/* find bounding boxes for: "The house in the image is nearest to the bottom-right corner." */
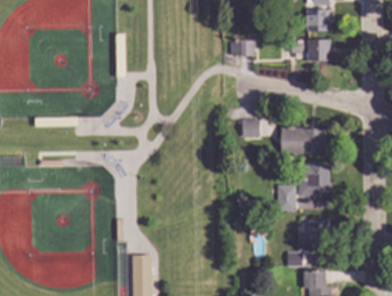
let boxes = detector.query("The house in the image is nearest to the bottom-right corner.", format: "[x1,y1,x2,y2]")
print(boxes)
[304,270,332,296]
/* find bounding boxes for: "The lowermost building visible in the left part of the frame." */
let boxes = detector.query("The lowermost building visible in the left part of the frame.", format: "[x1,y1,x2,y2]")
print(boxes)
[132,256,153,296]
